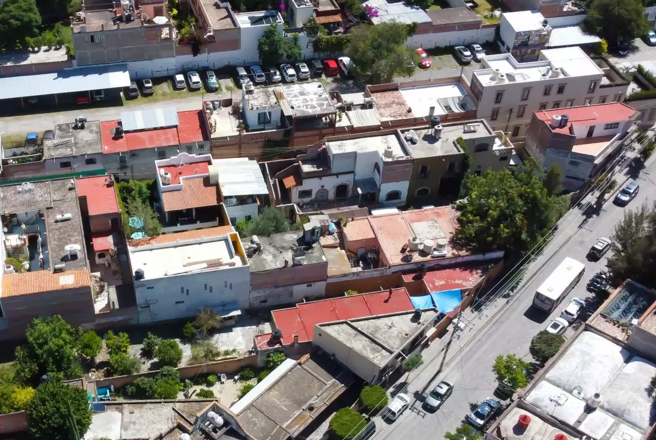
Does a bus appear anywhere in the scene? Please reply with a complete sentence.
Yes, the frame does contain a bus.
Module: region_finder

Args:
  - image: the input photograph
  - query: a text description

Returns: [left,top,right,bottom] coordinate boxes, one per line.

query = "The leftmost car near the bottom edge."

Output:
[383,394,411,423]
